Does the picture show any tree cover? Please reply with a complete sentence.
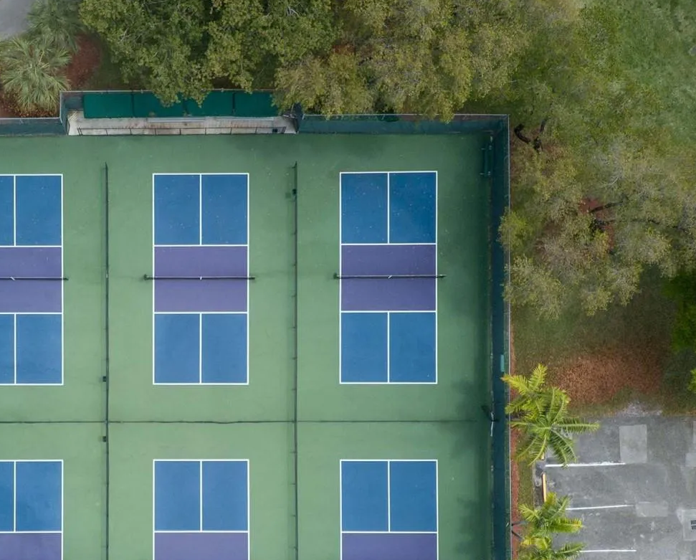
Yes, there is tree cover in the image.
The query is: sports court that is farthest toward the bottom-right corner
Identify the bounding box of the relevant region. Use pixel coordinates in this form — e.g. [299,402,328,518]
[390,461,438,532]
